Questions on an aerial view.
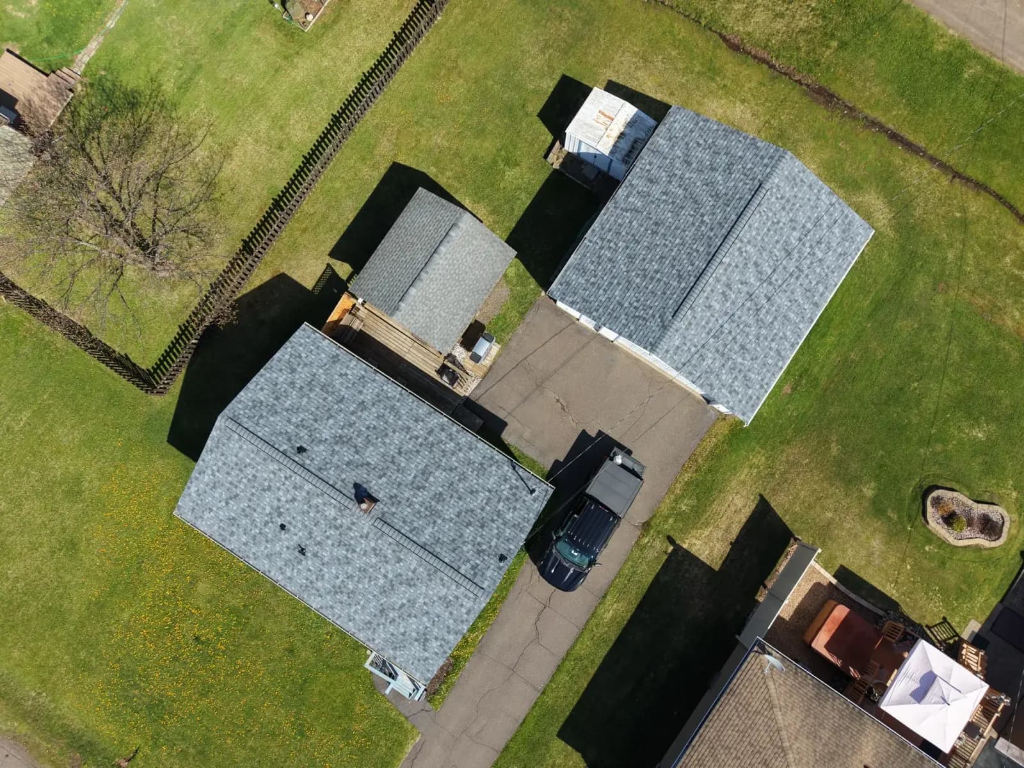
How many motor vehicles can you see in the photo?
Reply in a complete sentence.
Only 1 motor vehicle is visible.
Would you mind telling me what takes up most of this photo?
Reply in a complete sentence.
The largest share of the image is taken up by grass.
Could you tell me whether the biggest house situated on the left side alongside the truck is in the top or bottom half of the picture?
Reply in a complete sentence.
The bottom half of the photo is where the biggest house situated on the left side alongside the truck is.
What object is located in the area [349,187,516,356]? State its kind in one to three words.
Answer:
shed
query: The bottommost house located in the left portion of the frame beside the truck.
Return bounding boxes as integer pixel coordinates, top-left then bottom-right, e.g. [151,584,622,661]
[176,321,556,684]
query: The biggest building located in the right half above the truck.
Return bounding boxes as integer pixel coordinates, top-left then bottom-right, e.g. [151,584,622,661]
[545,102,873,426]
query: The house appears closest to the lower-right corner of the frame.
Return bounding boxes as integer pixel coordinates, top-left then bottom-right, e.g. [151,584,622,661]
[636,624,957,768]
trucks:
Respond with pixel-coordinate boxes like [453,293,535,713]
[543,447,650,595]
